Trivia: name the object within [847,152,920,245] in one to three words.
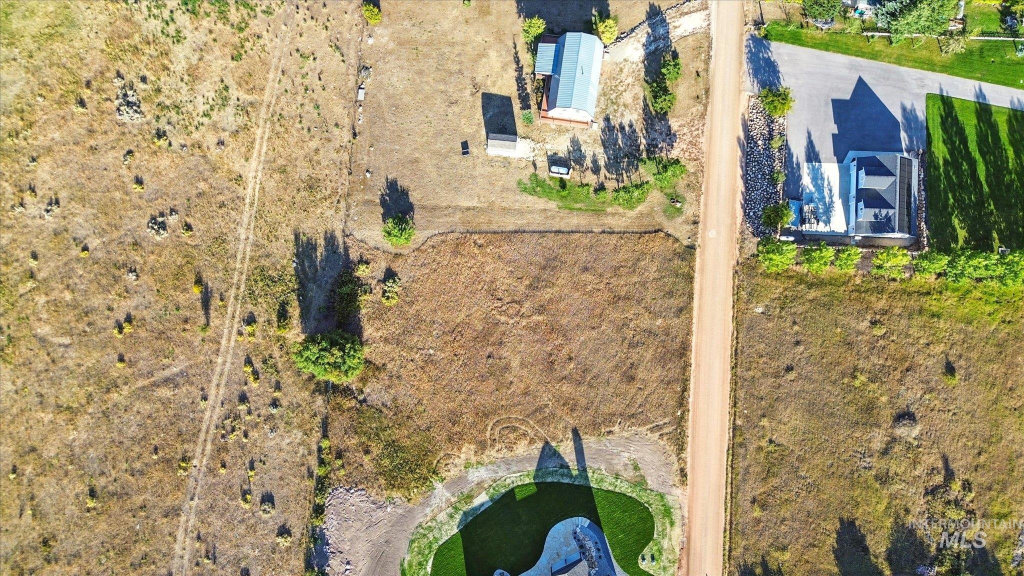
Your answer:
building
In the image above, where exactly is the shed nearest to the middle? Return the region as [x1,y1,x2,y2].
[486,132,517,158]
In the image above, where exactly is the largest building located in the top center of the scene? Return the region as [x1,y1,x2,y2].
[533,31,606,131]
